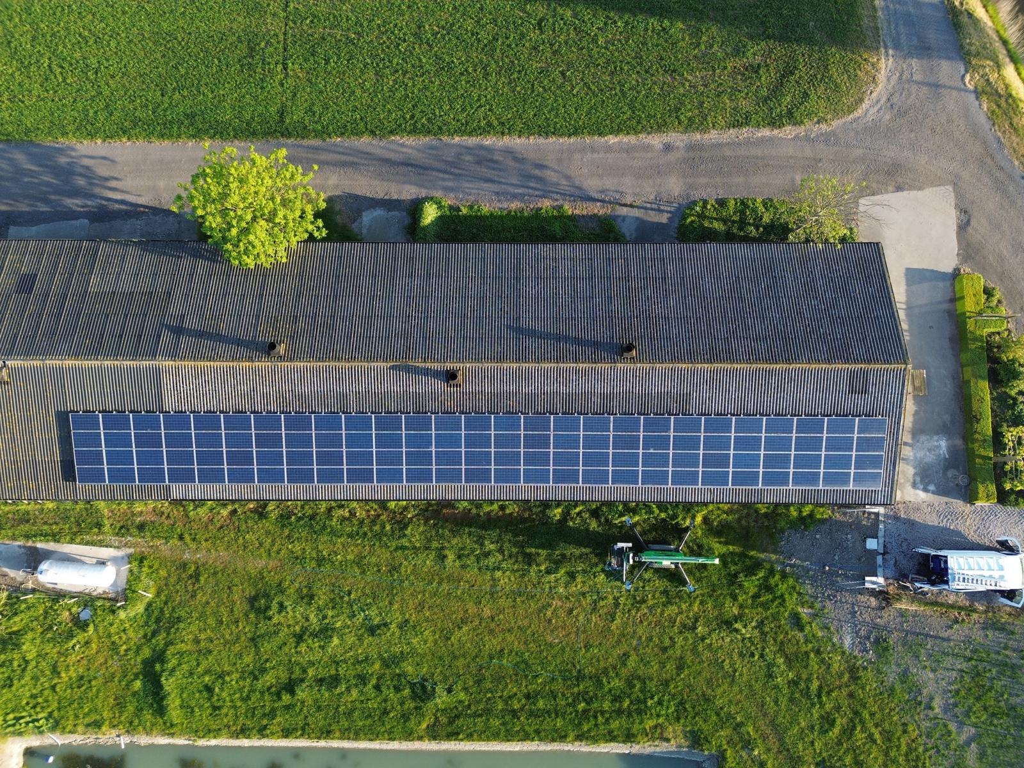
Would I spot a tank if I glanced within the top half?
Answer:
No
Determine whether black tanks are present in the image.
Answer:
No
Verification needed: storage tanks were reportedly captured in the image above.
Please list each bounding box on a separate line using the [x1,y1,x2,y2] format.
[24,560,117,589]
